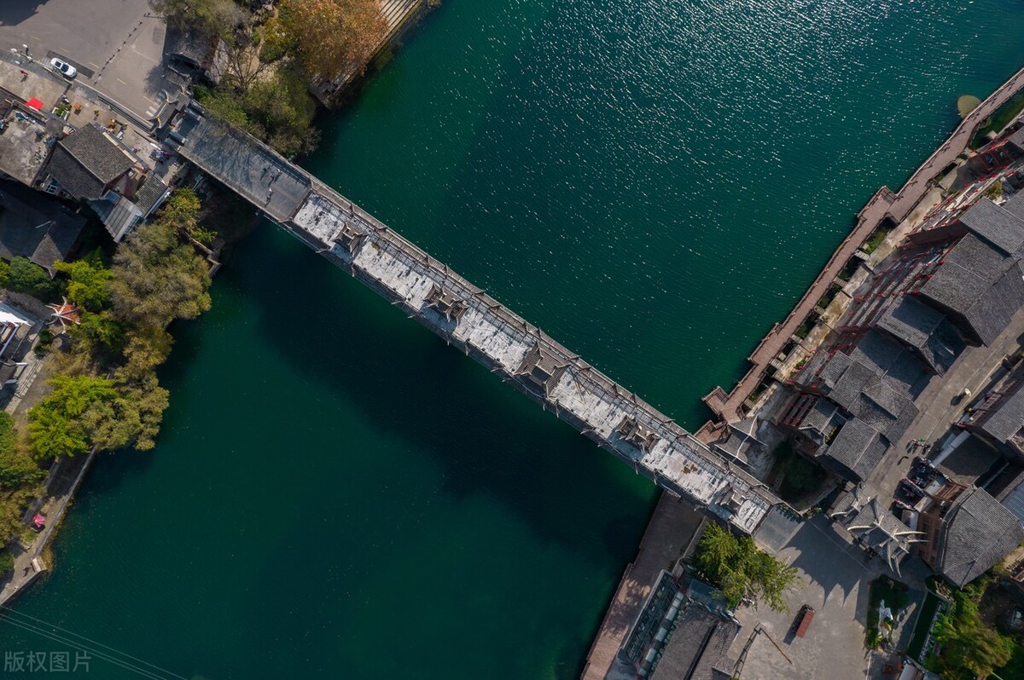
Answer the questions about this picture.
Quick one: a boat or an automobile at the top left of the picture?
automobile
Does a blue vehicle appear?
No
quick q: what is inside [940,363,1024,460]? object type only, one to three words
house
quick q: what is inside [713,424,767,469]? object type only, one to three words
shed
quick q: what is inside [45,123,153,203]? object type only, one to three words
house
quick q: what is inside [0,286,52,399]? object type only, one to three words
building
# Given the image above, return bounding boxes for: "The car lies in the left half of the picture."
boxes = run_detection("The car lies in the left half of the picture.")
[50,55,80,79]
